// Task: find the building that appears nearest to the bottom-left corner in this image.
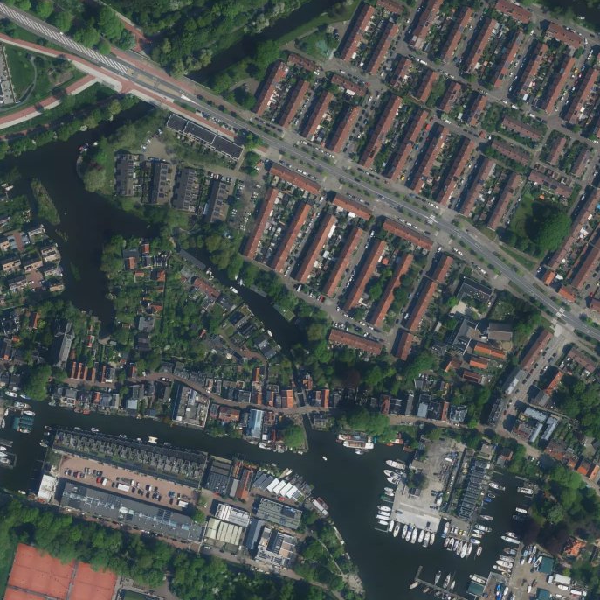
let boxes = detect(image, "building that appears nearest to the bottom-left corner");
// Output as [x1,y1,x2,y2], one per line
[37,475,57,502]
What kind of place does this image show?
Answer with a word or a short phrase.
residential area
